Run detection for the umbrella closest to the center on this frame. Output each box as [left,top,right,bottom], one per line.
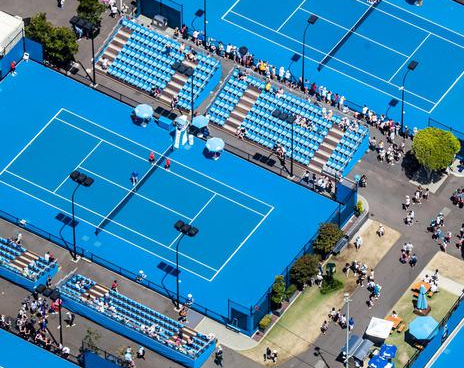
[204,138,227,164]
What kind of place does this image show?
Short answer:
sports ground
